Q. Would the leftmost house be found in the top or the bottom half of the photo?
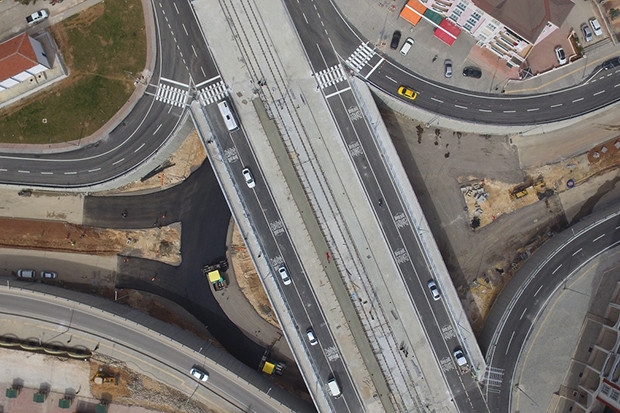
top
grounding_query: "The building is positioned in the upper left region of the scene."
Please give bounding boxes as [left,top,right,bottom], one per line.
[0,31,50,92]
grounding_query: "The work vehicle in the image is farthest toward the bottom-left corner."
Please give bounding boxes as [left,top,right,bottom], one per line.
[93,371,121,385]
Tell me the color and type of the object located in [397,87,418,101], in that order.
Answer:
yellow car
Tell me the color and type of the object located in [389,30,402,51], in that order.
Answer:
black vehicle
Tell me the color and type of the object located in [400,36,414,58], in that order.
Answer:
white car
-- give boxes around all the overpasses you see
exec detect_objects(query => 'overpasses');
[186,0,496,413]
